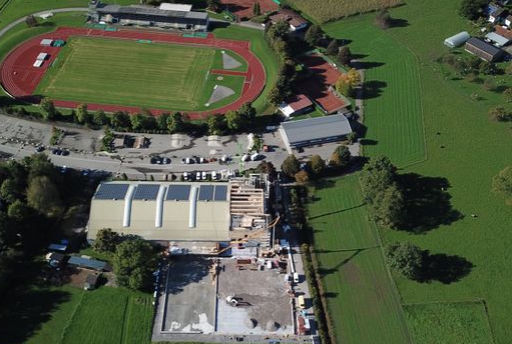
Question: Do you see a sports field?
Yes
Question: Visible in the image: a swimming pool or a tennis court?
tennis court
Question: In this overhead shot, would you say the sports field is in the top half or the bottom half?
top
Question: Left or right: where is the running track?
left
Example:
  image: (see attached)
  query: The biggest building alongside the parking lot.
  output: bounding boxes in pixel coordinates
[88,180,228,249]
